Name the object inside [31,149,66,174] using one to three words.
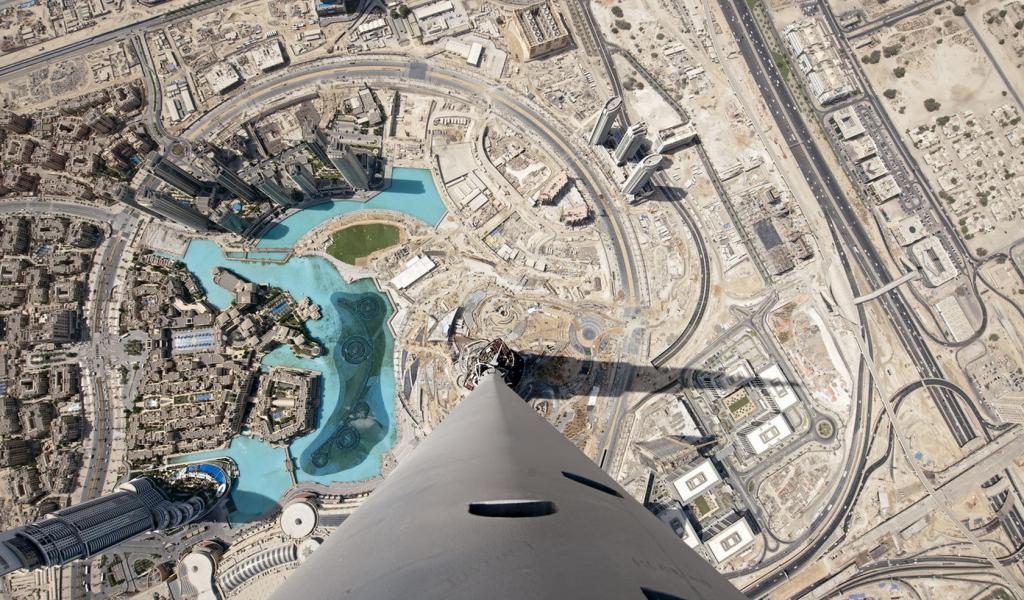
building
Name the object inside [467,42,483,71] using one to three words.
building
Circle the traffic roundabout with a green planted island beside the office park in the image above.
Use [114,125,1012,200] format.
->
[811,414,839,444]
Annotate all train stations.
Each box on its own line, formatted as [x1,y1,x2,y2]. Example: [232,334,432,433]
[821,263,852,303]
